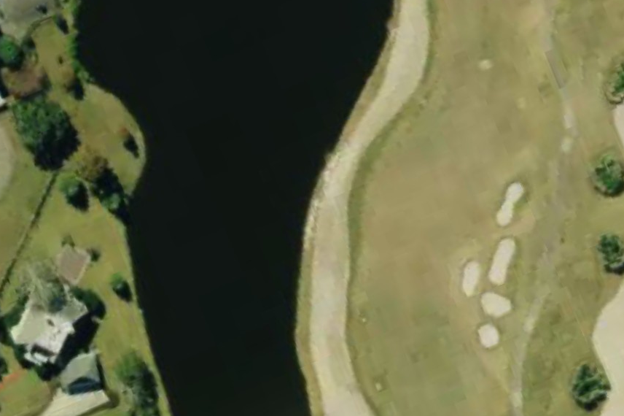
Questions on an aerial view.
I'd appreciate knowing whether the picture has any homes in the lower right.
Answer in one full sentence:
No, no home appears in the lower right.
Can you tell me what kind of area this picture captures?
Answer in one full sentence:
The area seen from above is a golf course.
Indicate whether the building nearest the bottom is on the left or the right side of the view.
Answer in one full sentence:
The building nearest the bottom sits on the left side.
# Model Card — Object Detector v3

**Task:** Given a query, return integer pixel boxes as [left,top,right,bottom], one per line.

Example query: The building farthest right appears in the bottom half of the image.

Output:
[59,352,102,397]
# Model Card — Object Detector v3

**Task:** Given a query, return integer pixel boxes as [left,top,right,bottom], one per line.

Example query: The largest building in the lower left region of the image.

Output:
[7,286,95,369]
